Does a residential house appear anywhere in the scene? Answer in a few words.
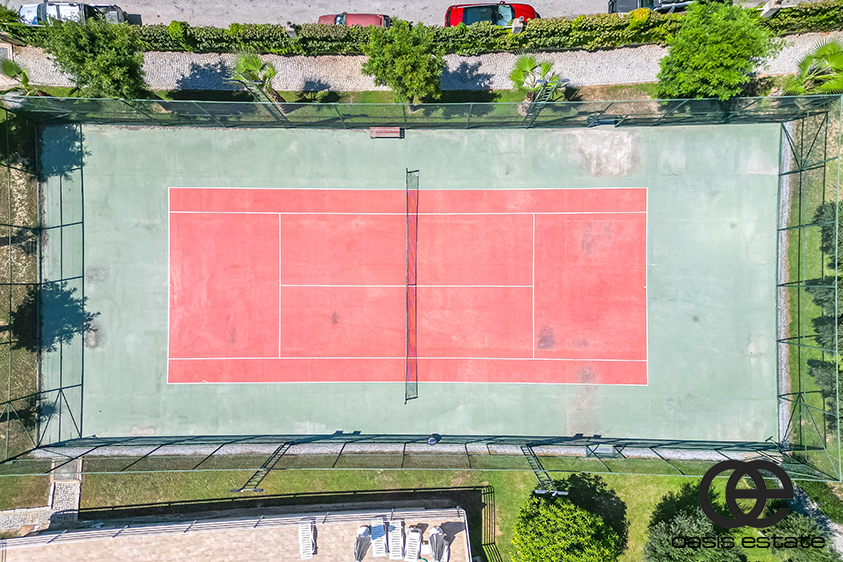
No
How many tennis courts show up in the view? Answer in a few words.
1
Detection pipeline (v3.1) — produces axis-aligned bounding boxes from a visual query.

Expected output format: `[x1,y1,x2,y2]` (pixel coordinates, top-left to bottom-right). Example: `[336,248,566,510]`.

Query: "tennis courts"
[37,123,781,452]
